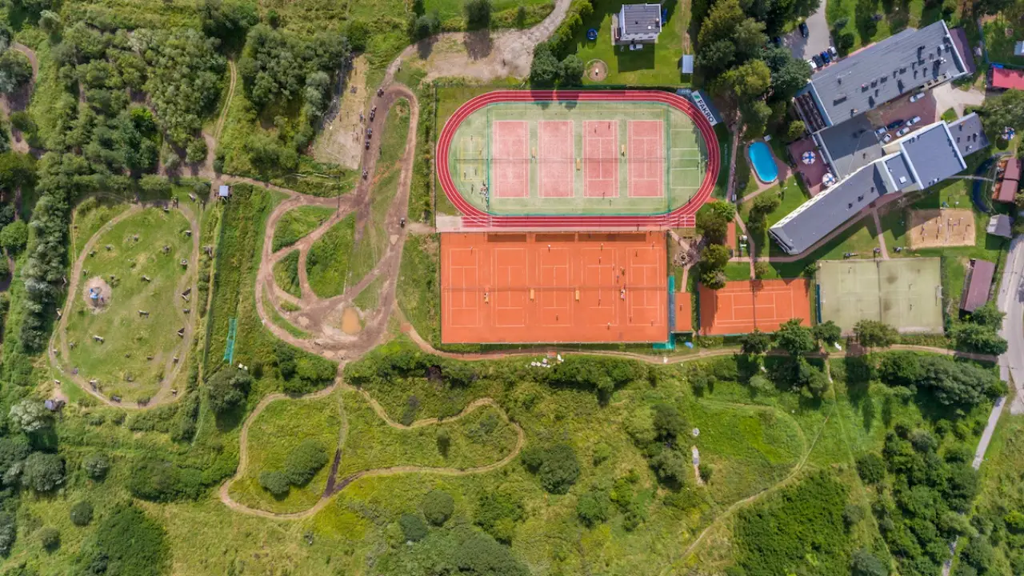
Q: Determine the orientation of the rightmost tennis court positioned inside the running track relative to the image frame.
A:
from top to bottom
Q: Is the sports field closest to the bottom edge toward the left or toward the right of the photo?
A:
right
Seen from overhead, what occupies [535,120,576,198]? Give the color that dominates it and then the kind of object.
pink tennis court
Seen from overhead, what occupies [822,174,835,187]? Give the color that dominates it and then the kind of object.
white umbrella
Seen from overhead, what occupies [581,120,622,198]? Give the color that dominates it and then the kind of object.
pink tennis court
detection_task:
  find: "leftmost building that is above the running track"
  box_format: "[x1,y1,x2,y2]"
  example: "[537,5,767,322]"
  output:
[621,3,662,42]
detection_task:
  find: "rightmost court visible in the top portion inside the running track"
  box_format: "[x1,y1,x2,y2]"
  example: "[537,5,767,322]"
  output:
[626,120,667,198]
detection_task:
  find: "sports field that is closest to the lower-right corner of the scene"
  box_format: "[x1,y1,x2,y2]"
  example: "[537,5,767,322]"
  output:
[816,257,945,336]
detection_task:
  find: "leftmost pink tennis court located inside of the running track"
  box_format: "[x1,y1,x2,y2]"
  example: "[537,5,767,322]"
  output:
[490,120,531,198]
